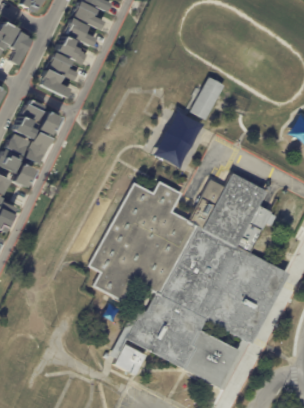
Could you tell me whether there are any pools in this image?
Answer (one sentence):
No, no pool is visible in the view.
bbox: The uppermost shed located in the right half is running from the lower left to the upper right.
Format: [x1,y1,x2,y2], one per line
[191,77,223,118]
